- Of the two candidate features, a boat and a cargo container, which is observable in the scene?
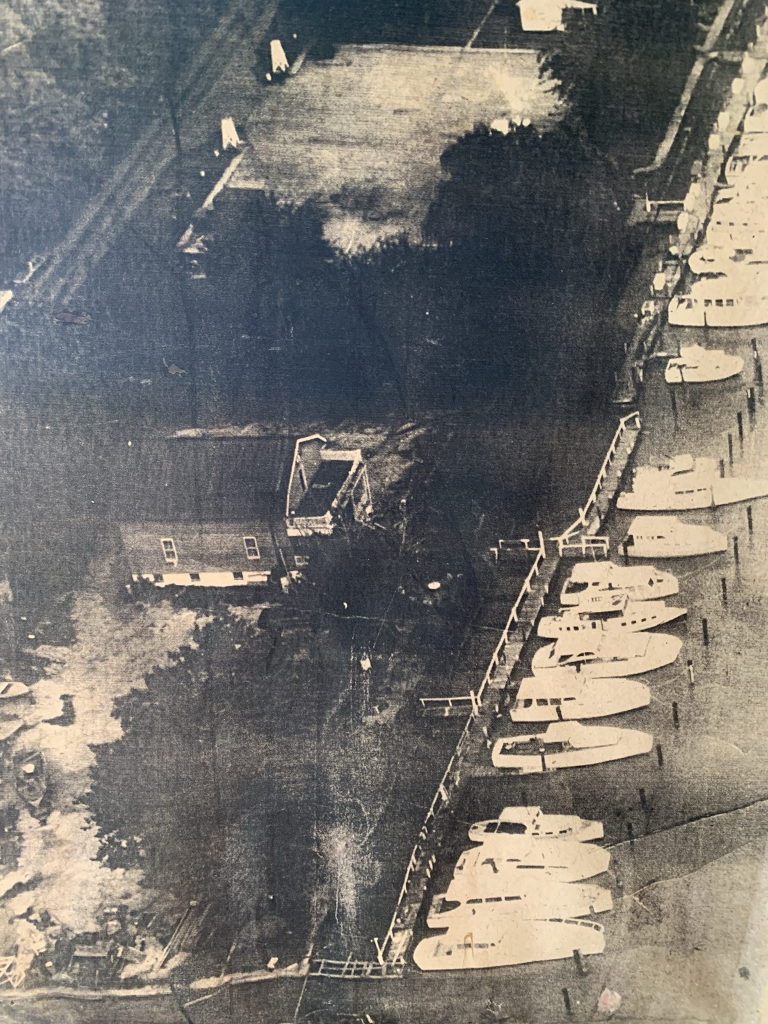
boat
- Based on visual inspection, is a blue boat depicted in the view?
No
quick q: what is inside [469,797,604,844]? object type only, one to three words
boat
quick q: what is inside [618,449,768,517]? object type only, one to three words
boat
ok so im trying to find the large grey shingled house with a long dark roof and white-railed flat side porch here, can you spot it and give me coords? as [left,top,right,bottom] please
[112,432,382,583]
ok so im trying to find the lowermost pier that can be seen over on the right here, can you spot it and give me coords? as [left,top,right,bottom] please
[384,556,564,977]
